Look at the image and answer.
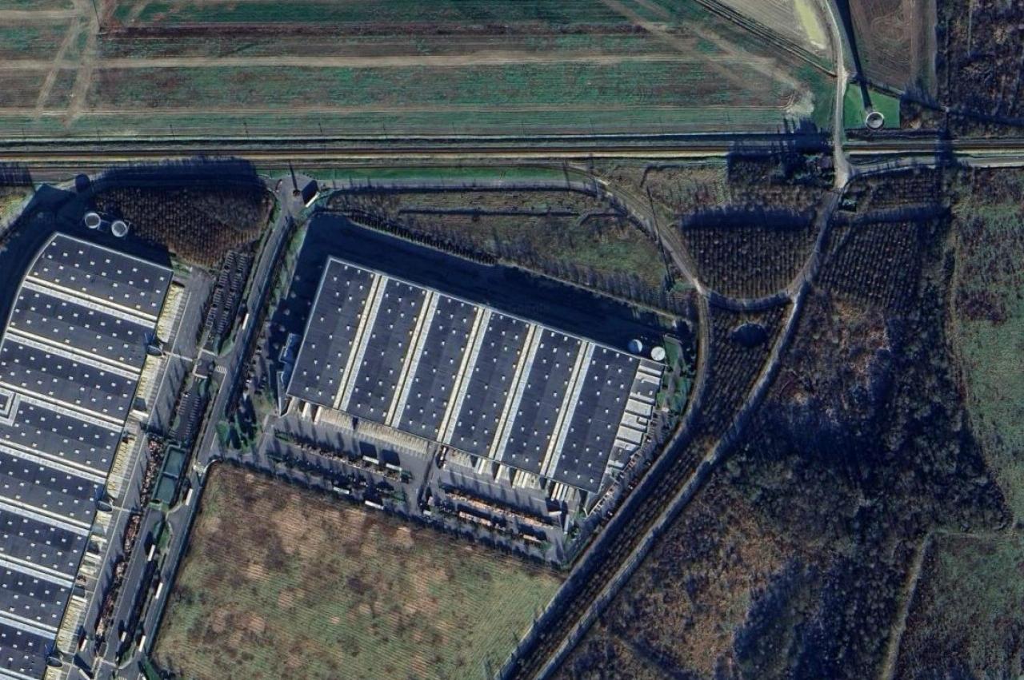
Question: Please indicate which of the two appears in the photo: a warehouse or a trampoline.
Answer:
warehouse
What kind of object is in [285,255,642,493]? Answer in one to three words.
warehouse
